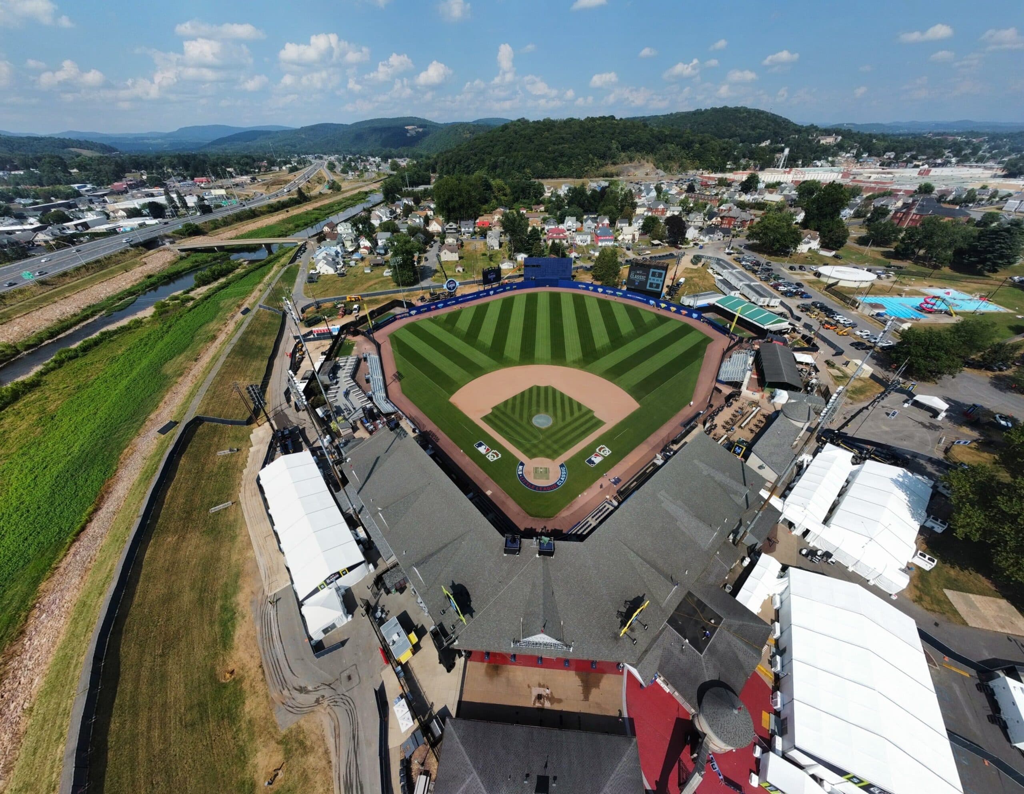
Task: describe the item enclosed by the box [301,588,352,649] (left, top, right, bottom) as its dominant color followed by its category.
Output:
white tent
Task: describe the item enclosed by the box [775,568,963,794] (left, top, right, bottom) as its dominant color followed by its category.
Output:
white tent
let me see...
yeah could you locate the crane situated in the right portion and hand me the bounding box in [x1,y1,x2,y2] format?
[818,379,901,467]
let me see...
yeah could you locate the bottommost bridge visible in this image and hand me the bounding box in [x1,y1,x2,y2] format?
[160,237,313,254]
